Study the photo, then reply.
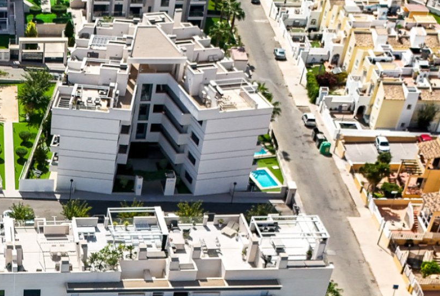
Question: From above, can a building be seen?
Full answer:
Yes, the frame does contain a building.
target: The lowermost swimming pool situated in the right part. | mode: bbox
[255,167,281,186]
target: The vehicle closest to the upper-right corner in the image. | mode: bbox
[373,136,394,151]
